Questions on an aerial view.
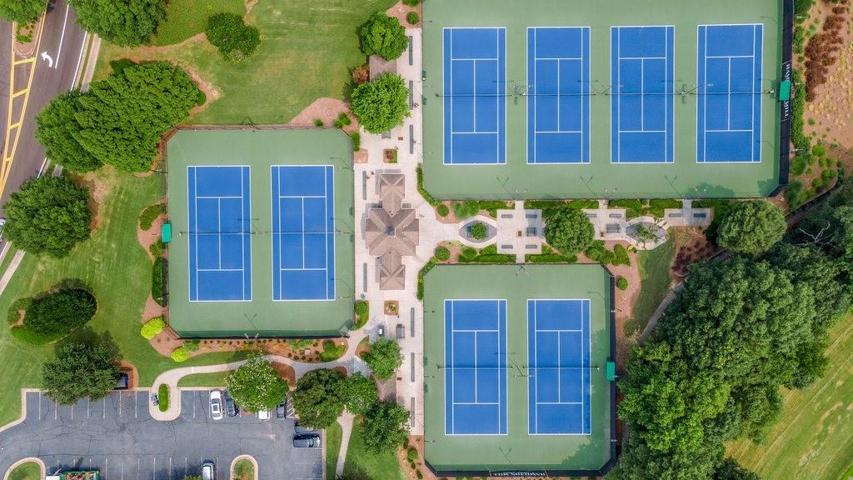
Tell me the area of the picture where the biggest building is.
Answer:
center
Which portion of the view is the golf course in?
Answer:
bottom right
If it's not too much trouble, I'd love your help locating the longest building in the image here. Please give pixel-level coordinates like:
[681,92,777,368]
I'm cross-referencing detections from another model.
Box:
[366,172,420,291]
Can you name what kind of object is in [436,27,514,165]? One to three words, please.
tennis court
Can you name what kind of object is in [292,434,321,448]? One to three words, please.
vehicle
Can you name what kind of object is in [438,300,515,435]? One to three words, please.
tennis court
